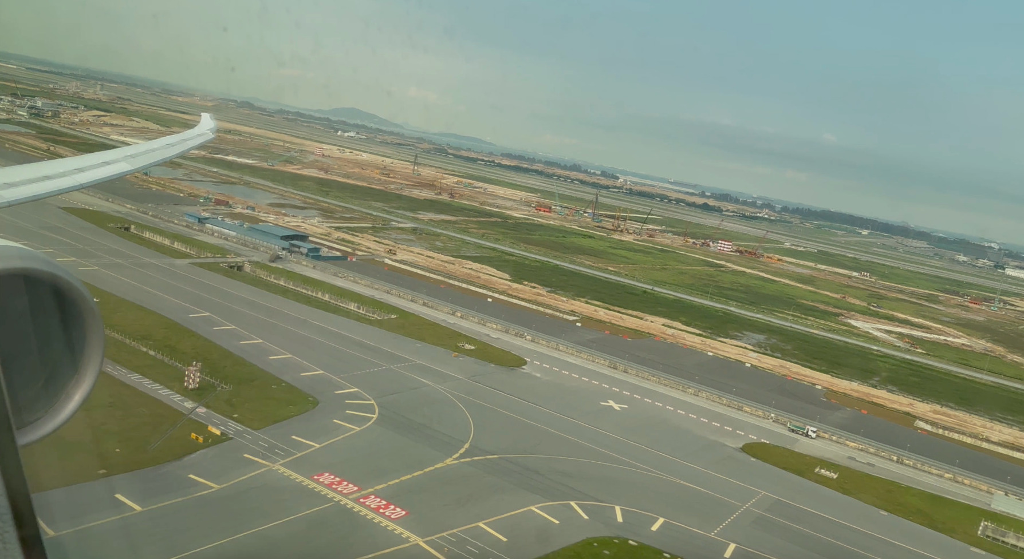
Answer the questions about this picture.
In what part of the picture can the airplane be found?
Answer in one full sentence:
You can find the airplane in the left area of the picture.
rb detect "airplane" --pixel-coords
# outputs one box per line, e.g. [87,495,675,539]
[0,113,216,559]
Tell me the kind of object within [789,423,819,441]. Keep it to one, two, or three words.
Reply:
vehicle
